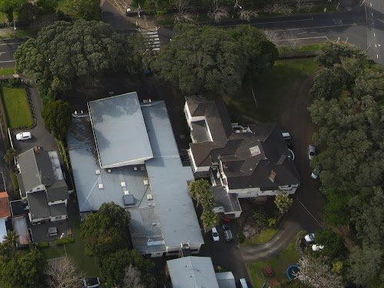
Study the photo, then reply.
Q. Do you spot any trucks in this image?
No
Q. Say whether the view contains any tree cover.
Yes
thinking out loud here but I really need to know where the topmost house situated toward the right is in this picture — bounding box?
[173,96,300,219]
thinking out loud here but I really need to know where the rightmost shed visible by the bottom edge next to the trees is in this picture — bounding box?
[164,255,234,288]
